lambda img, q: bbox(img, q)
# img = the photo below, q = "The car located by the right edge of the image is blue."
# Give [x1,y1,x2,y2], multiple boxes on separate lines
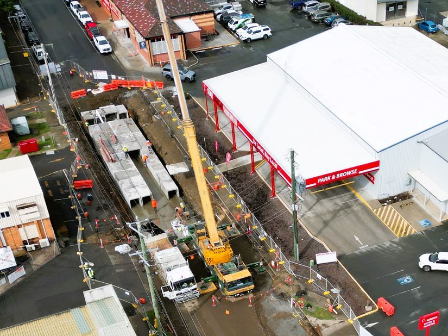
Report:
[421,20,440,33]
